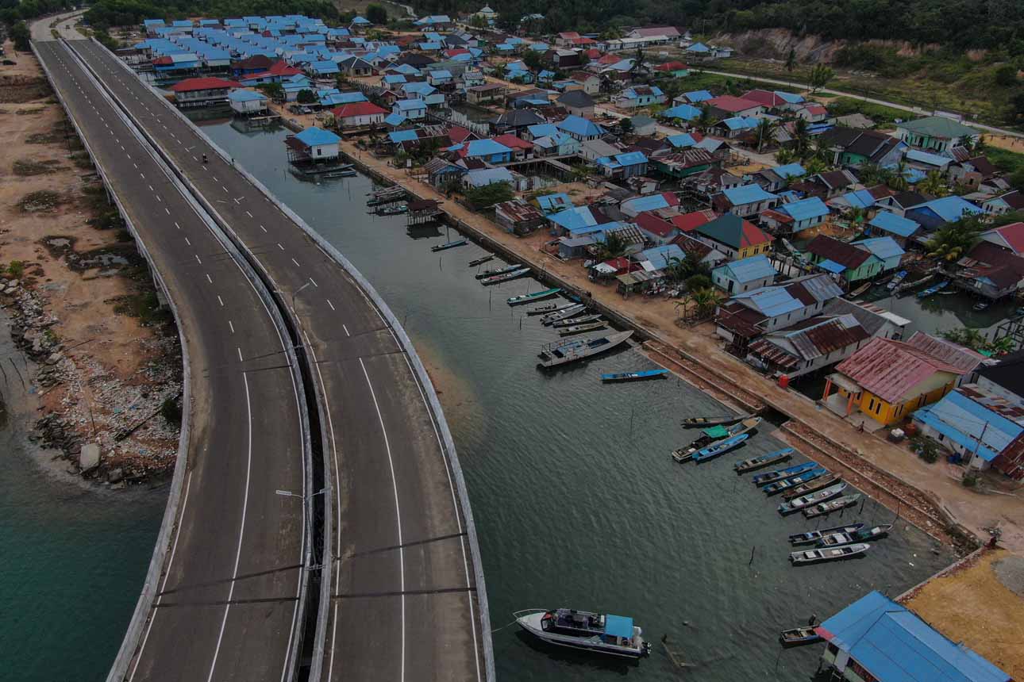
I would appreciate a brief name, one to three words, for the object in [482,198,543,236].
shed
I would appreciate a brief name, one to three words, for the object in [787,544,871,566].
boat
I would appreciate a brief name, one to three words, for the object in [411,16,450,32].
house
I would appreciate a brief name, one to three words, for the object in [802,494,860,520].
boat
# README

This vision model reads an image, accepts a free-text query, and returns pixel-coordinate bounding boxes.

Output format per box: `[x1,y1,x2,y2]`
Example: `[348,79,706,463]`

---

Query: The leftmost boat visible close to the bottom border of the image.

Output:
[496,607,651,670]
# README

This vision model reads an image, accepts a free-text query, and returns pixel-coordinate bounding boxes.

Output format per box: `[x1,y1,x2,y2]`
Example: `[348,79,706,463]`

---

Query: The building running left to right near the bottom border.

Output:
[798,580,1012,682]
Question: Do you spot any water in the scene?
Yes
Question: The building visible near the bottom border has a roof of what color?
blue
